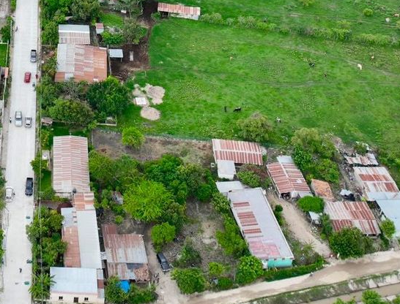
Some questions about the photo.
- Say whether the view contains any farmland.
Yes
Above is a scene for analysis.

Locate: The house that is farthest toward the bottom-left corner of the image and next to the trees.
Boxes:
[50,265,97,303]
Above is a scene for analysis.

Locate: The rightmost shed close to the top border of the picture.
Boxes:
[158,2,200,21]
